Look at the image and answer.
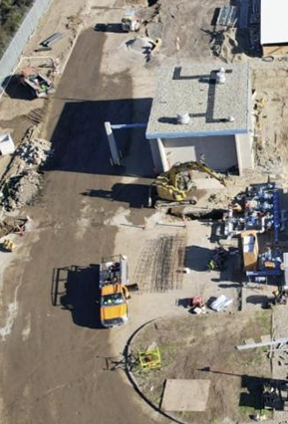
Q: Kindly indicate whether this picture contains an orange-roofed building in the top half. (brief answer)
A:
No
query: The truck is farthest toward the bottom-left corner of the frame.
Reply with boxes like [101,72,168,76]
[92,246,130,323]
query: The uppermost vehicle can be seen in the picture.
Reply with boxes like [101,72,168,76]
[120,11,140,31]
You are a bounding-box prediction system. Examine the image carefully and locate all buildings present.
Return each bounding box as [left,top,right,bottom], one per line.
[147,61,254,181]
[254,0,288,57]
